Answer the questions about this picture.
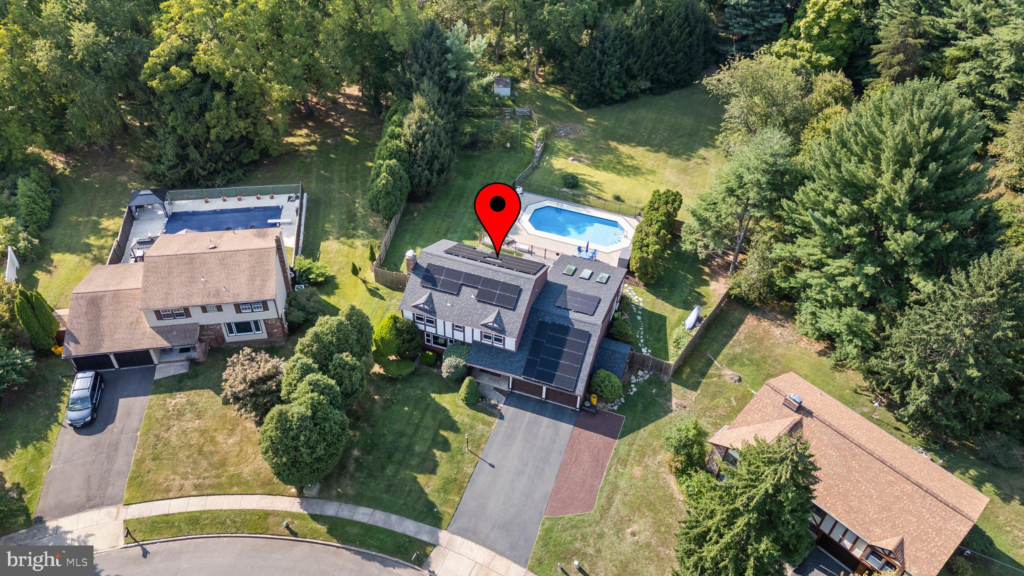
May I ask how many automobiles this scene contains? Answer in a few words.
1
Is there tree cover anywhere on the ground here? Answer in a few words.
Yes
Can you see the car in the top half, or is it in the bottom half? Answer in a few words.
bottom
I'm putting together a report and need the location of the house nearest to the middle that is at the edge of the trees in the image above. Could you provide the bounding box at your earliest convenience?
[398,240,632,411]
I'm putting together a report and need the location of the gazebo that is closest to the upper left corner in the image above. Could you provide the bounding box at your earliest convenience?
[126,184,178,222]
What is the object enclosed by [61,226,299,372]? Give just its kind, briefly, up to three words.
house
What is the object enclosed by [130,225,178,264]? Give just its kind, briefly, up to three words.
gazebo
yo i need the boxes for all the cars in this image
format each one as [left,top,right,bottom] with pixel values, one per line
[64,371,106,431]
